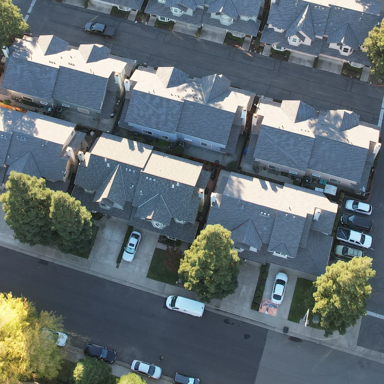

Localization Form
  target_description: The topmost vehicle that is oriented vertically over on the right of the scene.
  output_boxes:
[271,272,287,305]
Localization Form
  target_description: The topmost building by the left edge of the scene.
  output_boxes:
[0,34,131,124]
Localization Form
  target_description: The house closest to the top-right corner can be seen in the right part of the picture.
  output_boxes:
[265,0,384,73]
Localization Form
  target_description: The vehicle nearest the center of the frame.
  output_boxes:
[123,231,141,263]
